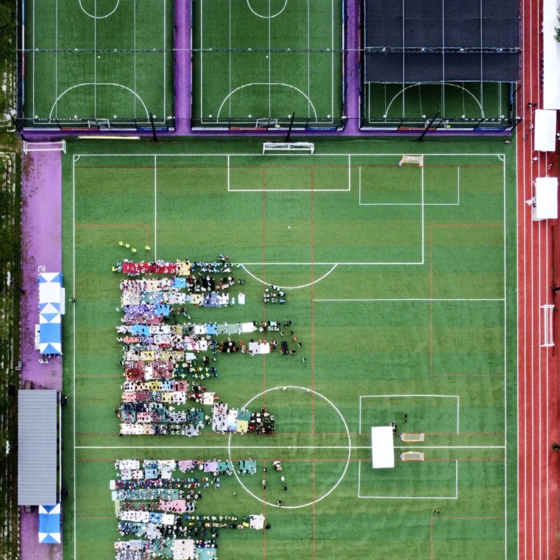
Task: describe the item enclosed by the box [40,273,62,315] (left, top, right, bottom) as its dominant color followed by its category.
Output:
white tent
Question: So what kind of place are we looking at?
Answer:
sports ground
